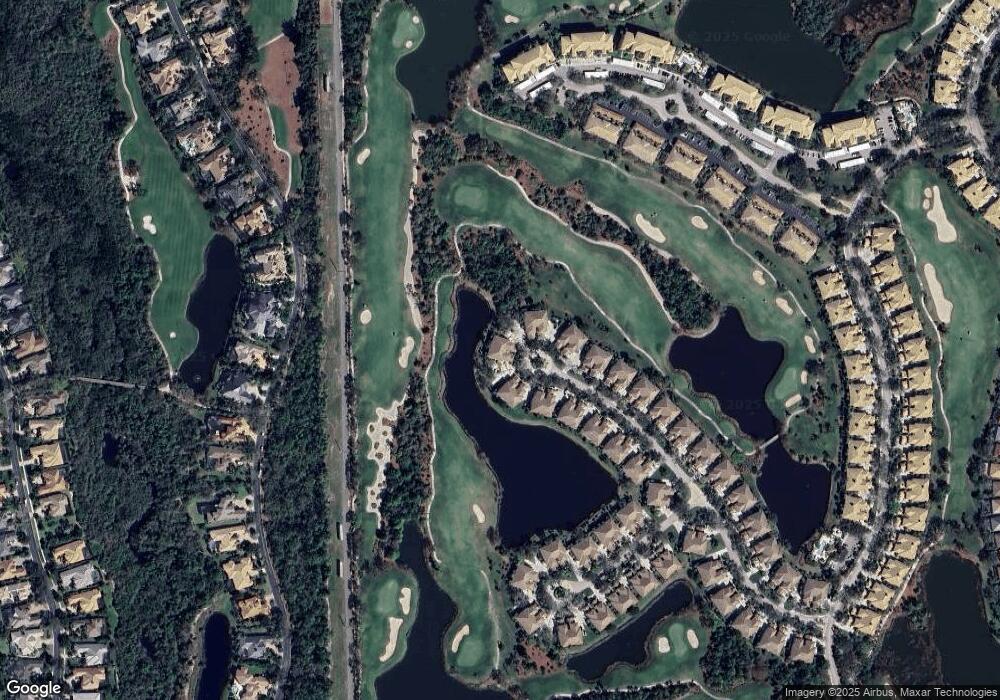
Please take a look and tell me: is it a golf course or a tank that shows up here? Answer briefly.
golf course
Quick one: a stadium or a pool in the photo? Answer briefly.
pool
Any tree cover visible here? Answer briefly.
Yes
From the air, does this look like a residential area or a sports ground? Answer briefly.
residential area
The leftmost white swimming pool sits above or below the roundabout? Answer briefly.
above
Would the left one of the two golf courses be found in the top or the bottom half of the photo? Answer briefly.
top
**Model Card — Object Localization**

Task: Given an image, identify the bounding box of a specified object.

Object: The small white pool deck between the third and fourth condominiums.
[679,51,710,78]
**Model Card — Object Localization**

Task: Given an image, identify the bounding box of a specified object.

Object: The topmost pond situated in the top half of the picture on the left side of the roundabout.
[396,0,481,122]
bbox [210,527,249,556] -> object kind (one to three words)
house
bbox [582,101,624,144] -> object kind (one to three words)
building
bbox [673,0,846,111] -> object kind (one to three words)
pond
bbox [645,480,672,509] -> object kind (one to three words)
house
